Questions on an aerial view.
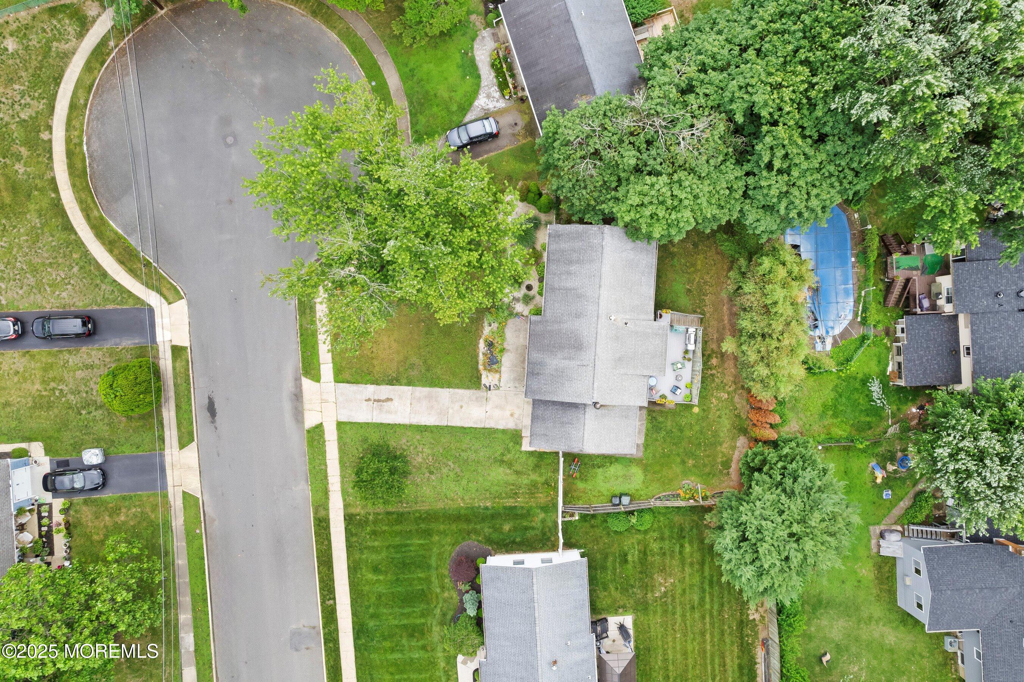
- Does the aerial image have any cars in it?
Yes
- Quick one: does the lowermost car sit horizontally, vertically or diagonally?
horizontally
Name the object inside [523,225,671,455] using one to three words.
house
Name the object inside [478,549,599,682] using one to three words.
house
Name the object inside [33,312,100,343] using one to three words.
car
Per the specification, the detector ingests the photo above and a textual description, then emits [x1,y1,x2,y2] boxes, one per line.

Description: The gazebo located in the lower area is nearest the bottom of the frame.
[598,642,639,682]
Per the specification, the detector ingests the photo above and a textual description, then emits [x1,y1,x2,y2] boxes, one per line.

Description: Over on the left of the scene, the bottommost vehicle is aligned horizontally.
[40,466,110,496]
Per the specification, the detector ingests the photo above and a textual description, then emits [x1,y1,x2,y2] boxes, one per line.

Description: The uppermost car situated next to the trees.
[444,115,503,151]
